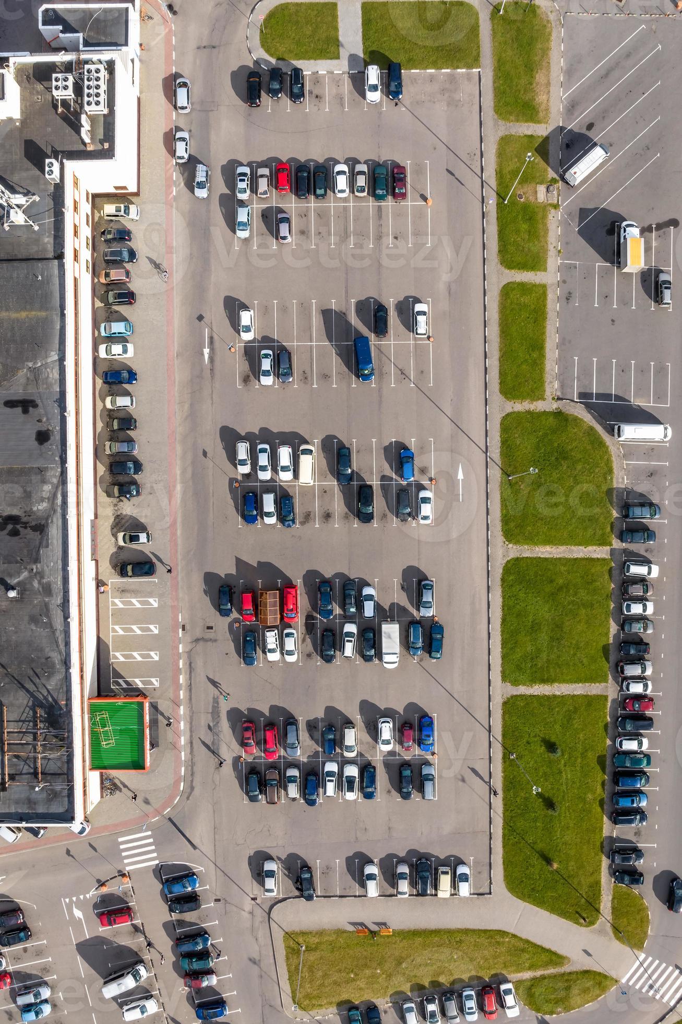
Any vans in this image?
Yes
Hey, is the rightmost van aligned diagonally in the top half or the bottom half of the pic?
top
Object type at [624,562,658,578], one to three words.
car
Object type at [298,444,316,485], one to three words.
vehicle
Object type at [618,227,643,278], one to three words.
truck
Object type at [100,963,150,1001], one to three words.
van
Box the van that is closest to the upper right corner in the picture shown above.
[565,145,608,186]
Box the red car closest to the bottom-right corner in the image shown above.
[480,984,500,1020]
